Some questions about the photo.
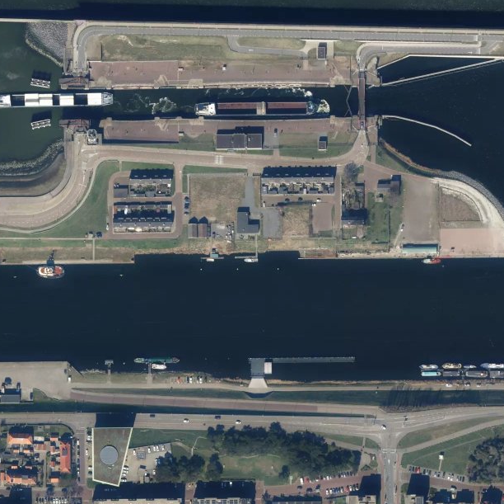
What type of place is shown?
port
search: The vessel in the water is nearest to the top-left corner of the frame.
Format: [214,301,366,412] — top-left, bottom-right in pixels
[0,93,113,107]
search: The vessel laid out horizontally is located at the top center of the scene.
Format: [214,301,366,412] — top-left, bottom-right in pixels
[196,102,316,114]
